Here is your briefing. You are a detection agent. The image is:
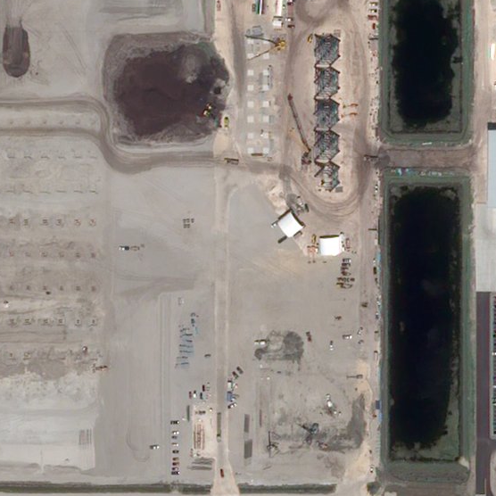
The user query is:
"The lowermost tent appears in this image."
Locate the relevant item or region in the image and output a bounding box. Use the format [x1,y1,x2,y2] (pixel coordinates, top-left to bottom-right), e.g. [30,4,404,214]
[322,234,344,253]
